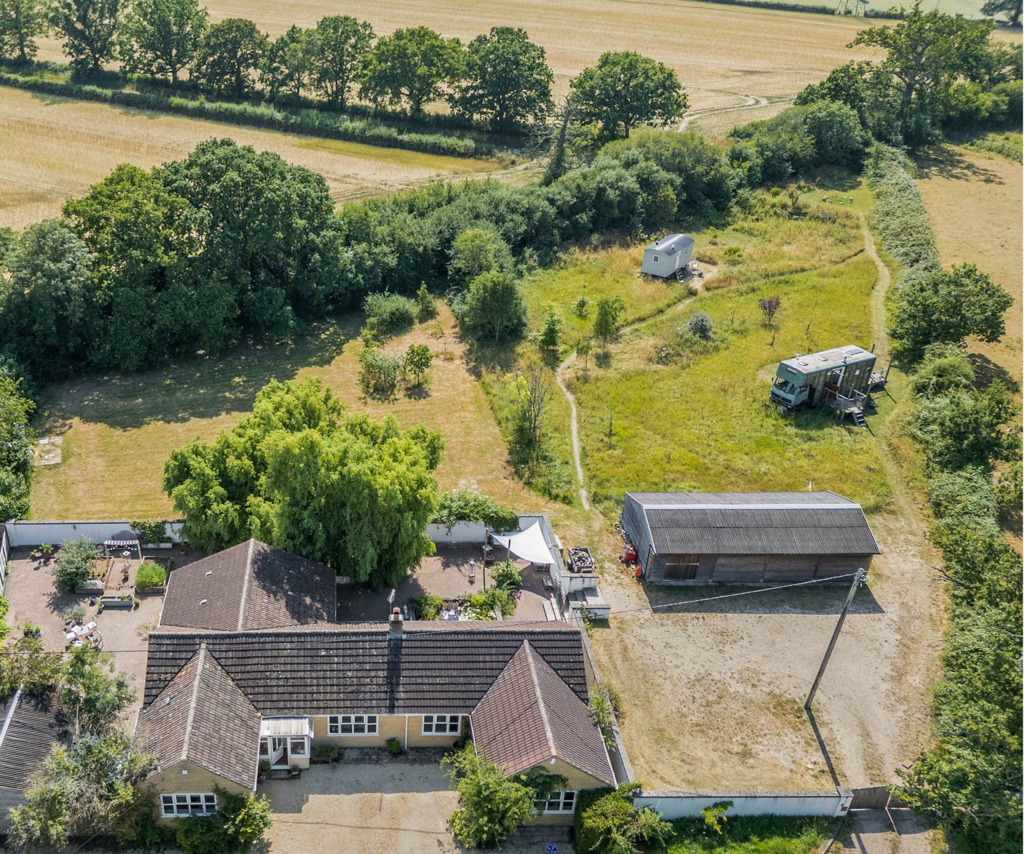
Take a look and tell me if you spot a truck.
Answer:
Yes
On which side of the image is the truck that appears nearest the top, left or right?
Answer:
right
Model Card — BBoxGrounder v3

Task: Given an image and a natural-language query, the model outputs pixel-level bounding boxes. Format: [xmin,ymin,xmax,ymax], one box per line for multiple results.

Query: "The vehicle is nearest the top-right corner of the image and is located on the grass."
[768,345,876,413]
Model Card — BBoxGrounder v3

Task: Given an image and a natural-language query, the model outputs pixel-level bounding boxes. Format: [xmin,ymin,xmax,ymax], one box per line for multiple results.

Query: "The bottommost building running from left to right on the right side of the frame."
[623,488,890,585]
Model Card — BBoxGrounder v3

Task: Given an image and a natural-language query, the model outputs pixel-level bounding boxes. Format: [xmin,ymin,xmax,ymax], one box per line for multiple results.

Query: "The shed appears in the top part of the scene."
[640,233,695,284]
